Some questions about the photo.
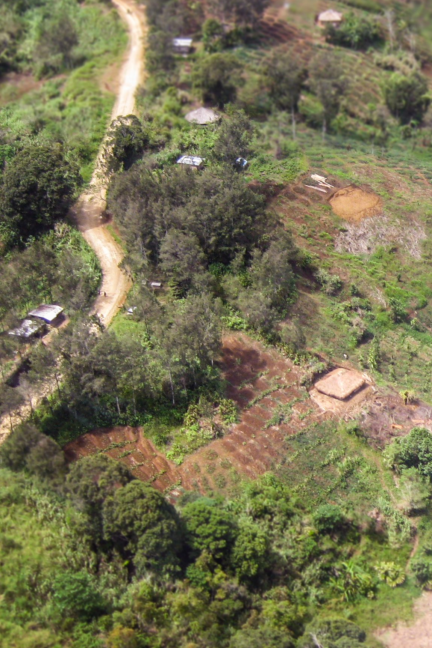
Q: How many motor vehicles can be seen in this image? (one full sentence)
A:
Not a single motor vehicle can be seen.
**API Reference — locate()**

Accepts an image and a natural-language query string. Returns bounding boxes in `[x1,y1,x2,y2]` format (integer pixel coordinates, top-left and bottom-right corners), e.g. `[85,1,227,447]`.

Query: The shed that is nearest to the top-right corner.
[317,6,341,23]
